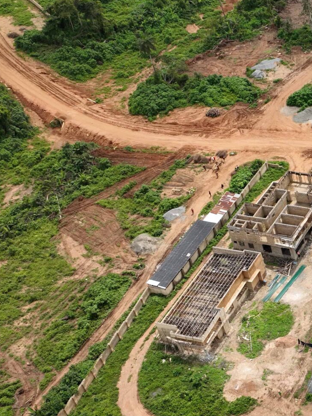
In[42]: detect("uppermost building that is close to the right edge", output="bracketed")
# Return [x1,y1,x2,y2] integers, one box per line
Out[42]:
[227,170,312,260]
